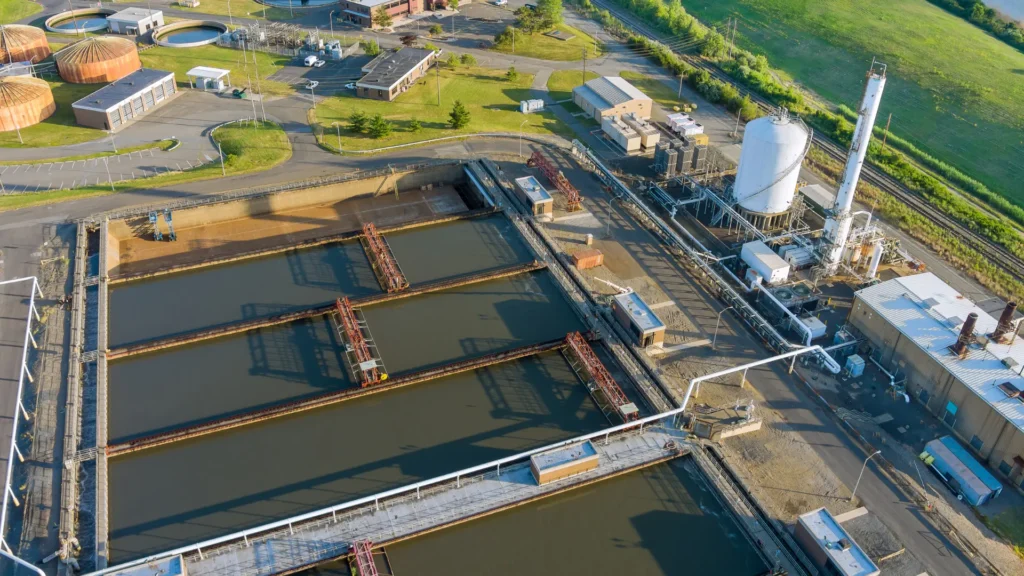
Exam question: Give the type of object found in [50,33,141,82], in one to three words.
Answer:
storage tank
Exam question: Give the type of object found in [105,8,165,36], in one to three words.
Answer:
building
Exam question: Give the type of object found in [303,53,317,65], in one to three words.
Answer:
vehicle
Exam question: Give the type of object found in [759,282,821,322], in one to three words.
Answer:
cooling tower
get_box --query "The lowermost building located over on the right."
[792,506,883,576]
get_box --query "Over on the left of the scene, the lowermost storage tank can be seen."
[0,70,55,131]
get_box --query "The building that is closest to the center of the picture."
[514,176,556,229]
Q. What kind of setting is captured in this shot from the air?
industrial area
